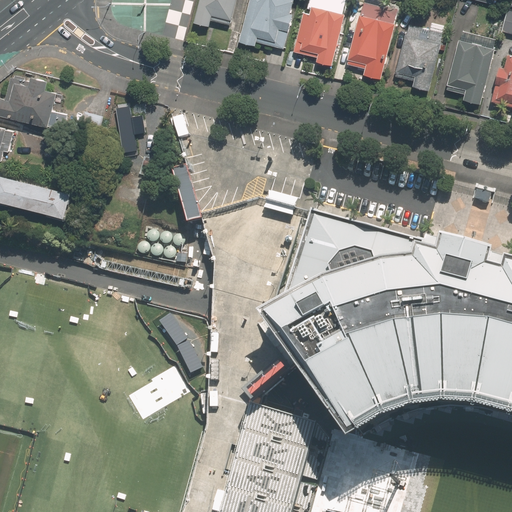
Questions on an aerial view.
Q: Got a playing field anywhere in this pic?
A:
Yes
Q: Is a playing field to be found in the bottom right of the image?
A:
Yes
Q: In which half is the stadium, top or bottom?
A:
bottom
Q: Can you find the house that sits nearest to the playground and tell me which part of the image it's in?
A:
top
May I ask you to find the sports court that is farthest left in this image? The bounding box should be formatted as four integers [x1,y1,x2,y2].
[112,0,171,34]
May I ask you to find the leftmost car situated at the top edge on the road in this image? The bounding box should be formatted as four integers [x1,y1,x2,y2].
[9,0,24,14]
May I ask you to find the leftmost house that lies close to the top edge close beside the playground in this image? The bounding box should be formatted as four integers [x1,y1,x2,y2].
[193,0,237,29]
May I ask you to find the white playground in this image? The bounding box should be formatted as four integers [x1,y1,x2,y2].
[163,0,195,43]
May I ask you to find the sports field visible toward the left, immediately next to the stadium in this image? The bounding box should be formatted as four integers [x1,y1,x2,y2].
[0,268,210,512]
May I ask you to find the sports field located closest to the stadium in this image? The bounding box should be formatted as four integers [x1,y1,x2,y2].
[425,458,512,512]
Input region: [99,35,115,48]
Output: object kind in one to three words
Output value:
vehicle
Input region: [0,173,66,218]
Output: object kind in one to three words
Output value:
house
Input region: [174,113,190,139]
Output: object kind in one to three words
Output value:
vehicle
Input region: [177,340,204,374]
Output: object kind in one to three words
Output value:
shed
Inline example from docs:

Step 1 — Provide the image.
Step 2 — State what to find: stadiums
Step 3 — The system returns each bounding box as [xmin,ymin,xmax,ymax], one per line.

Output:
[255,208,512,478]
